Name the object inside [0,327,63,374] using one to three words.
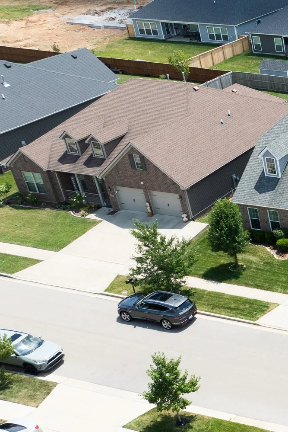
car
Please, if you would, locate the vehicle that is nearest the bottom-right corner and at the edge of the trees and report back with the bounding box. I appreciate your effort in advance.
[112,289,195,330]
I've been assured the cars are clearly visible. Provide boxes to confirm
[0,327,63,374]
[0,418,42,432]
[112,289,195,330]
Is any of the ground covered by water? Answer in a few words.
No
